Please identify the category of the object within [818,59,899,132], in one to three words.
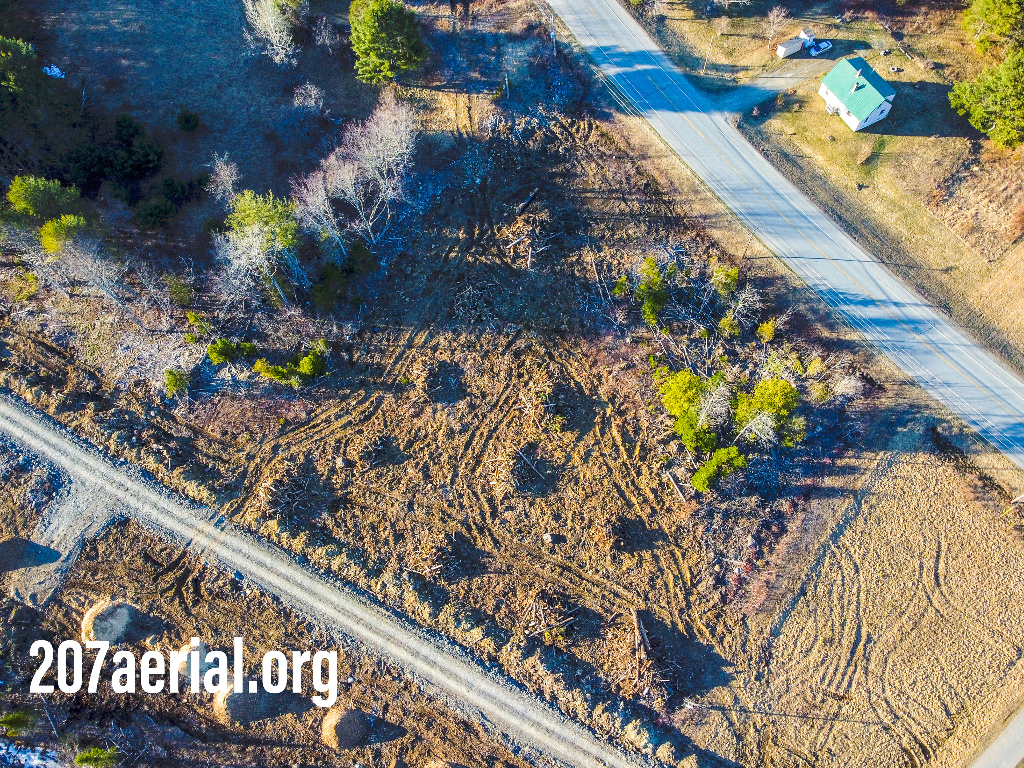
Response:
house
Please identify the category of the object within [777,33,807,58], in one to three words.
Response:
shed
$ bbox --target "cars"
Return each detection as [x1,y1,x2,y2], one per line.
[810,40,836,56]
